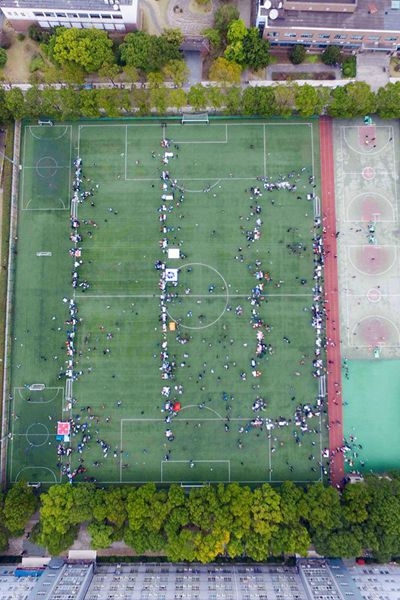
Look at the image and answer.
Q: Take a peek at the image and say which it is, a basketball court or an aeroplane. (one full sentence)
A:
It is a basketball court that can be seen here.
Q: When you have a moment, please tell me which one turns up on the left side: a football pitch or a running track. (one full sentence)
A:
What appears on the left side is a football pitch.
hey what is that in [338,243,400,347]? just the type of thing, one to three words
basketball court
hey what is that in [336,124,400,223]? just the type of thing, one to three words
basketball court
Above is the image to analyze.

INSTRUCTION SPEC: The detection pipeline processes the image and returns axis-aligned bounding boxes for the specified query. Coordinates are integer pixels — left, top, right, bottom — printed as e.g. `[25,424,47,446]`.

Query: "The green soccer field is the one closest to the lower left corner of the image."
[11,387,63,483]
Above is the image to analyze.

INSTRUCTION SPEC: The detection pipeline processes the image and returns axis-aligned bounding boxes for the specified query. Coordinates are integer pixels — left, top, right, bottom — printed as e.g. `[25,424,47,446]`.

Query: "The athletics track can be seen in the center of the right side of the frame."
[320,117,344,481]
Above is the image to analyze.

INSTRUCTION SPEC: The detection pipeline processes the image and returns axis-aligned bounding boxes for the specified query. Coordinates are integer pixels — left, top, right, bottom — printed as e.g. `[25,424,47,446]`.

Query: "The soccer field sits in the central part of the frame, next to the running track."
[67,121,324,485]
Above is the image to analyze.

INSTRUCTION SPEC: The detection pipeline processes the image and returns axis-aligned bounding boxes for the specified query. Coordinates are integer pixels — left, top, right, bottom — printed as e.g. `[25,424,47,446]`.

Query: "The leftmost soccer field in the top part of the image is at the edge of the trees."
[20,125,73,210]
